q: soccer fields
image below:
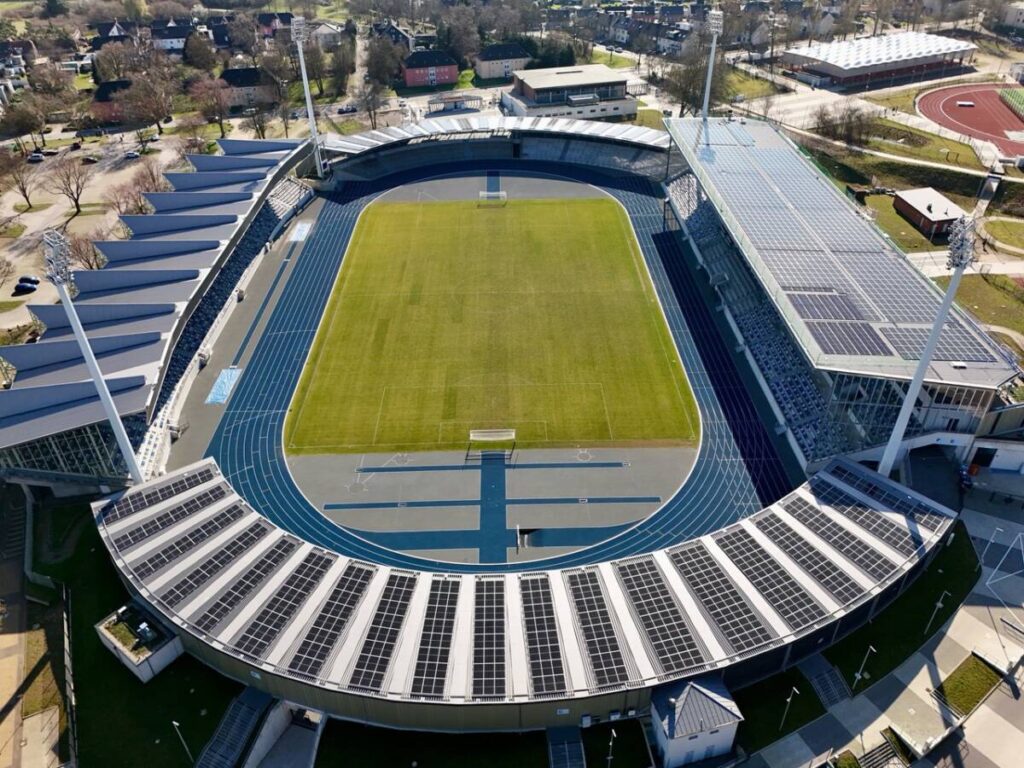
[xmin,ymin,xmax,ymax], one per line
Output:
[286,198,699,456]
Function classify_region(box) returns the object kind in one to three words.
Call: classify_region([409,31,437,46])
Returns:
shed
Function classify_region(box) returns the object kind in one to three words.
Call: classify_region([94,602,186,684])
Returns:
building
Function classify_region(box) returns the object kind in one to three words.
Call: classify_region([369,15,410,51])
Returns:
house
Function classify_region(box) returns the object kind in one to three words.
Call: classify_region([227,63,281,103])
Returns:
house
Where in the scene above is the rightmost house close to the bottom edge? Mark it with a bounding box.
[648,663,746,765]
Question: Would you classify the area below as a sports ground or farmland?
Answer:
sports ground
